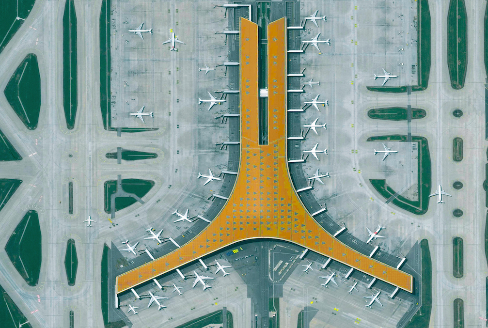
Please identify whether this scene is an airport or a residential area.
airport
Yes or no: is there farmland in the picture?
No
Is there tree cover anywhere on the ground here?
No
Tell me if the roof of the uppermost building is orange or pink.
orange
